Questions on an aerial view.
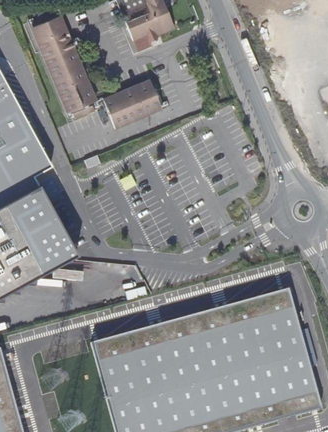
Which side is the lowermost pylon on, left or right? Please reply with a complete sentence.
It is on the left.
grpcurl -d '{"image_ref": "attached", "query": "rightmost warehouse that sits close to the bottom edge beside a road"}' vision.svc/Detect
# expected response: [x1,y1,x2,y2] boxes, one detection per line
[93,288,322,432]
